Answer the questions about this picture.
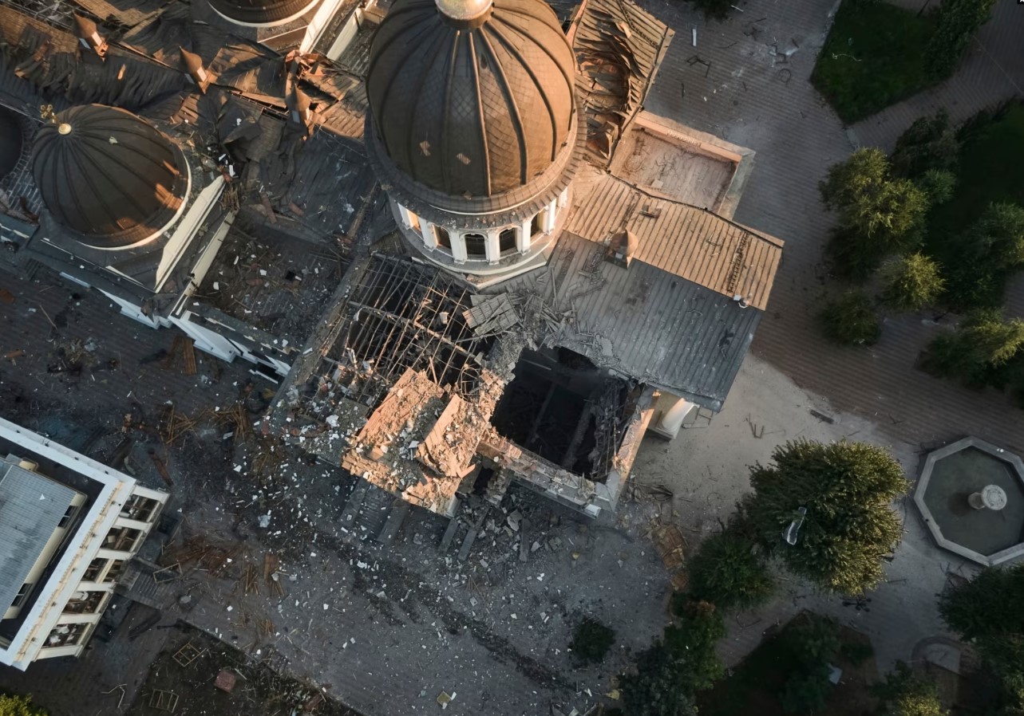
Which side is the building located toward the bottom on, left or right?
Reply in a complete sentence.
The building located toward the bottom sits on the left side.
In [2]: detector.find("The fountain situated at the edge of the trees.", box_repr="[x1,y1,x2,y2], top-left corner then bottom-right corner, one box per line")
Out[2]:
[912,436,1024,569]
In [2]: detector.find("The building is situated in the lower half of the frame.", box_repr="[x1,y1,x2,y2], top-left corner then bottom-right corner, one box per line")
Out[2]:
[0,422,190,666]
